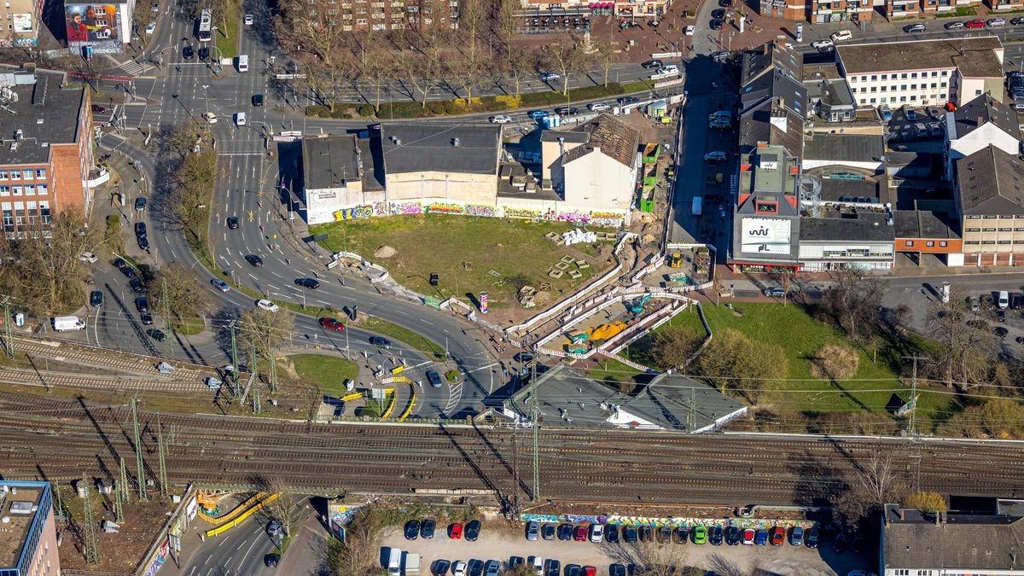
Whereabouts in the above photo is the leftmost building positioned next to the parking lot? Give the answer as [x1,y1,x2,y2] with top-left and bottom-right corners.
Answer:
[512,363,746,436]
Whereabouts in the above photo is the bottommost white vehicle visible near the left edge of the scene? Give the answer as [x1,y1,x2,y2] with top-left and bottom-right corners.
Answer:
[51,316,86,333]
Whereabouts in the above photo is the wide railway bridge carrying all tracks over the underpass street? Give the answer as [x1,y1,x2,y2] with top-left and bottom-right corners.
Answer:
[189,410,483,524]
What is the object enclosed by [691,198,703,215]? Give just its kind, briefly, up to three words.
vehicle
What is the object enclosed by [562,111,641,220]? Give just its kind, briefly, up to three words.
house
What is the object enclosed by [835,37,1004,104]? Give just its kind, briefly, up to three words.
building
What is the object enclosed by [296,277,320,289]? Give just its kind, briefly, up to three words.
vehicle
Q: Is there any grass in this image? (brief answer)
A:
Yes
